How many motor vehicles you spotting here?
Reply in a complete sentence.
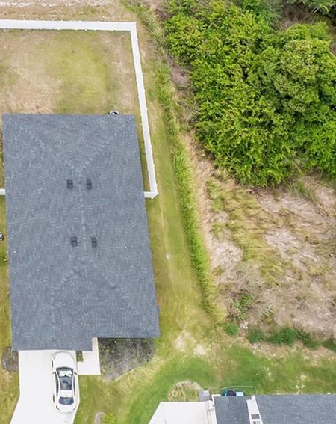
I count 1 motor vehicle.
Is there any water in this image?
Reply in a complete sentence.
No, the scene doesn't show any water.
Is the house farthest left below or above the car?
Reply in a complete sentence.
Relative to the car, the house farthest left lies above it.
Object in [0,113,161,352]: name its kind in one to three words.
house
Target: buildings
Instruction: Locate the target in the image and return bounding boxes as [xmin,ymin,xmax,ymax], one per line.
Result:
[203,394,336,424]
[0,113,161,352]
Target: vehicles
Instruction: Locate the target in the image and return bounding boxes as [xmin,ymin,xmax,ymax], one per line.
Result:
[51,350,79,413]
